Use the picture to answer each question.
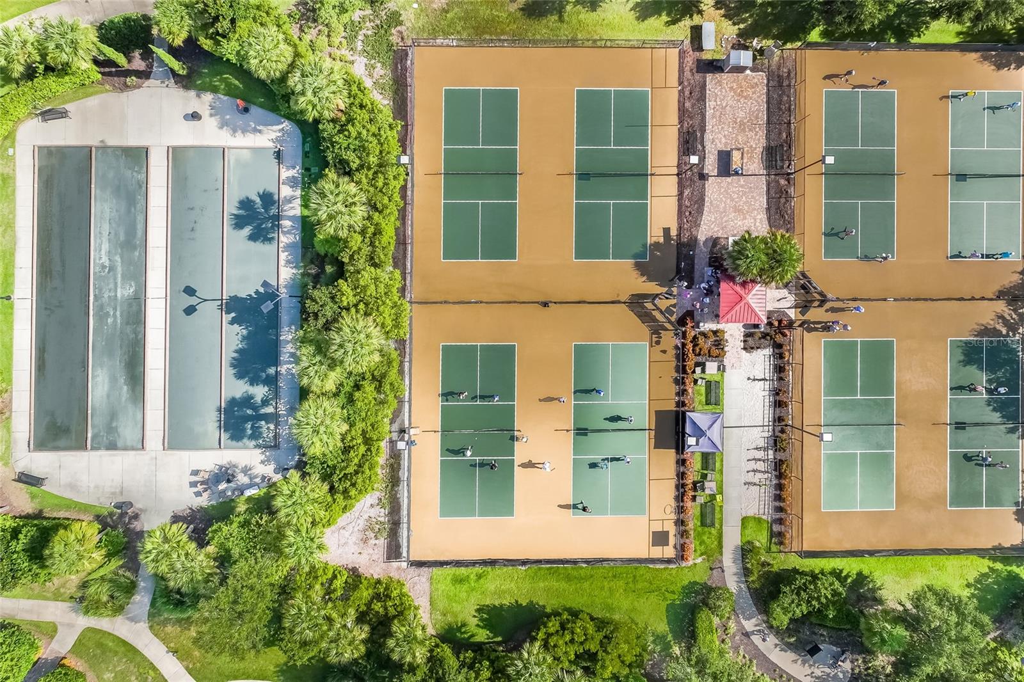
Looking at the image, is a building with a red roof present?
Yes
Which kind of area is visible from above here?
sports ground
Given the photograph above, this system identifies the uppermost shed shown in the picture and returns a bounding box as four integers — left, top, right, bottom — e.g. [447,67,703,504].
[726,50,756,76]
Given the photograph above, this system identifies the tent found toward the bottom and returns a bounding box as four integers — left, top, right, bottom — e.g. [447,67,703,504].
[677,410,721,450]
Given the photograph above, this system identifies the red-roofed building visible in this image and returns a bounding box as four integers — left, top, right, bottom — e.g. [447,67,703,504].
[712,272,766,321]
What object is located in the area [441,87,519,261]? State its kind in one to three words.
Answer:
sports court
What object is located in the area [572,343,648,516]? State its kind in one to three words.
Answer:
sports court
